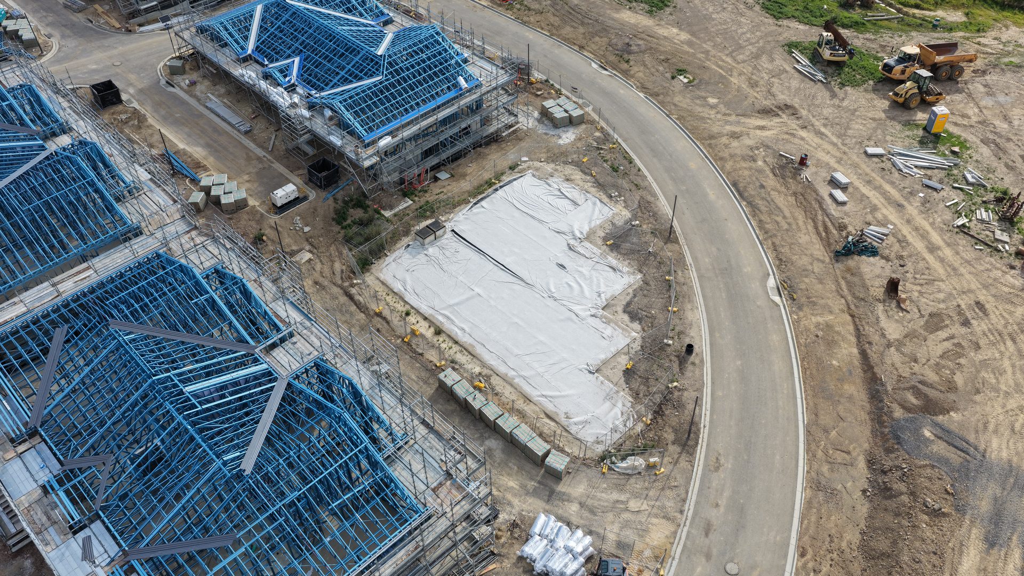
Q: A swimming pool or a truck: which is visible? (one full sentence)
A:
There is a truck in the scene.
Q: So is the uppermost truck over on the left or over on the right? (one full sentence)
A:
The uppermost truck sits on the right side.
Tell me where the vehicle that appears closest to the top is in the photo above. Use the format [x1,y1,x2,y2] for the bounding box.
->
[878,37,988,84]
